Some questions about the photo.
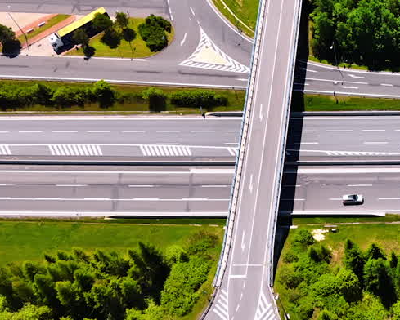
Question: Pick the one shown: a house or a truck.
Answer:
truck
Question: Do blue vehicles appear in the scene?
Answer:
No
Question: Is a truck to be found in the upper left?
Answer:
Yes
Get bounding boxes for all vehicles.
[344,195,362,204]
[47,11,109,54]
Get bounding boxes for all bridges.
[212,0,302,286]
